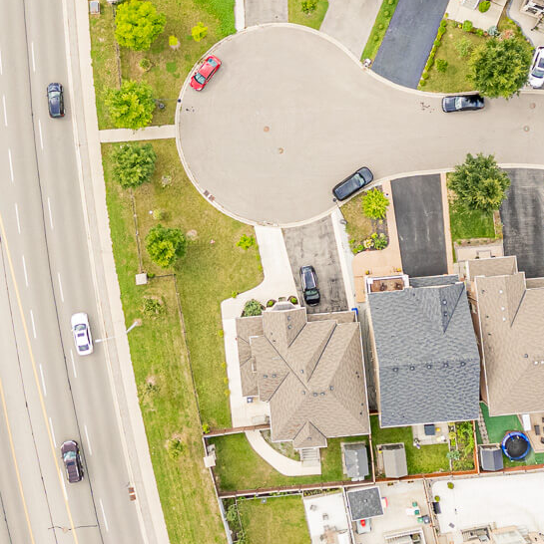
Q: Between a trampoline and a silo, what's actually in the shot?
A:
trampoline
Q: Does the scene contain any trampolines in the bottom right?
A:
Yes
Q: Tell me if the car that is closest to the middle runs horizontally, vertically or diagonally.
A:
vertically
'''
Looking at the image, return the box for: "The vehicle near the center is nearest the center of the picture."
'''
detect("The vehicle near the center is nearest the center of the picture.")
[299,263,321,305]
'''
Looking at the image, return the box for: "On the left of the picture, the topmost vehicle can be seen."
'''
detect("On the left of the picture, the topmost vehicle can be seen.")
[190,54,221,91]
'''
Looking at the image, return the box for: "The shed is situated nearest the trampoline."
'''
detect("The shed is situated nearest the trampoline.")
[478,445,503,471]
